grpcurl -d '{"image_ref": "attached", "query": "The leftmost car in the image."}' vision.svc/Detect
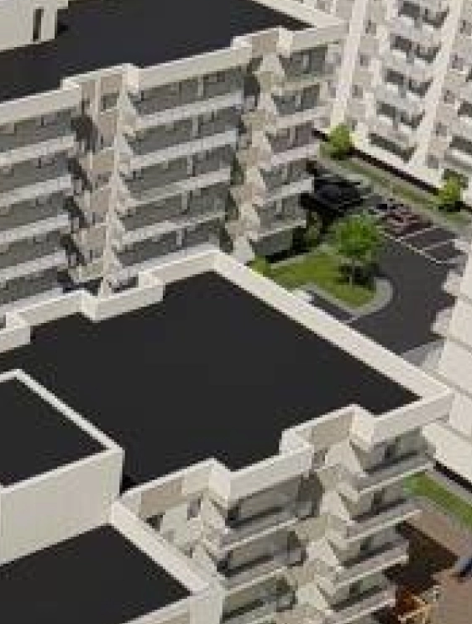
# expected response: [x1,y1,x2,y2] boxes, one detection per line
[326,177,373,206]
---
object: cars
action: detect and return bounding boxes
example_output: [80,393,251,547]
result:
[367,198,416,225]
[387,211,434,235]
[326,177,373,206]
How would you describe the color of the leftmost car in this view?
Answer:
black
